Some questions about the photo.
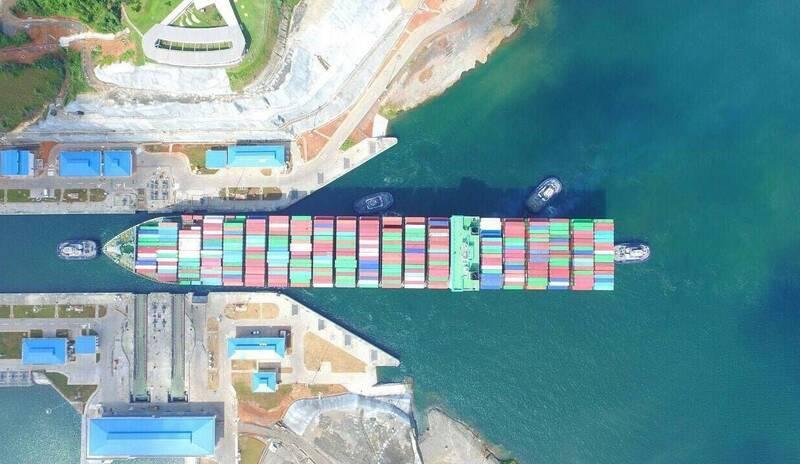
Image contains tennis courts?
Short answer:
No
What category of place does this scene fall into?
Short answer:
port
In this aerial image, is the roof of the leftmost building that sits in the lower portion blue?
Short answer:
Yes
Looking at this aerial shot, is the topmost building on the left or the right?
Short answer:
left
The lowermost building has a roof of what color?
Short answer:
blue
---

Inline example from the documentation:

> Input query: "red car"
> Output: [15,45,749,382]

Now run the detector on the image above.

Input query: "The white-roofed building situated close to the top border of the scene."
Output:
[141,0,248,71]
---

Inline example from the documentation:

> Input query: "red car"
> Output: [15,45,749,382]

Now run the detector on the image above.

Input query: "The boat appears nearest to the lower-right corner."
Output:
[614,243,651,262]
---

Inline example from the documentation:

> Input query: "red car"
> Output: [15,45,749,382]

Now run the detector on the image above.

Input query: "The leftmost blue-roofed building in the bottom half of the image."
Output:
[22,338,70,365]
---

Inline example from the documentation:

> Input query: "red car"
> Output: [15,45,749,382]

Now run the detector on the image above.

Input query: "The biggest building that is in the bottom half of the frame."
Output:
[88,414,219,457]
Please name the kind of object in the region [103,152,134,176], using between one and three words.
building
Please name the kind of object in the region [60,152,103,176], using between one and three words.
building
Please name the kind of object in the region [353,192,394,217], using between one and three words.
boat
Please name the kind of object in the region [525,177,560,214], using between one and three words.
boat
